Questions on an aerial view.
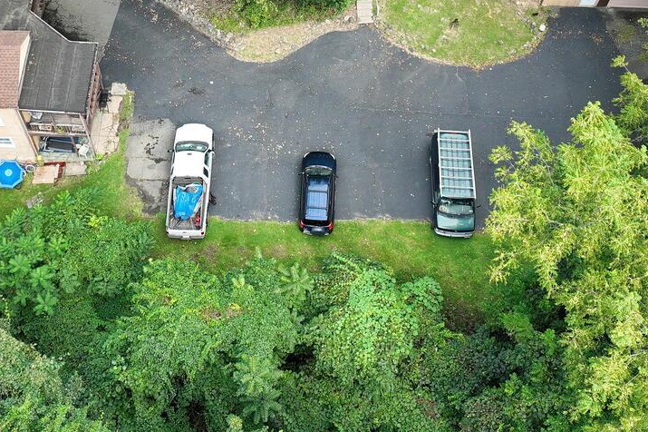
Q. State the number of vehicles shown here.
three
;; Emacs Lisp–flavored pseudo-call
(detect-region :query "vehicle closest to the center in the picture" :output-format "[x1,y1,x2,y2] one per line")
[298,154,342,234]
